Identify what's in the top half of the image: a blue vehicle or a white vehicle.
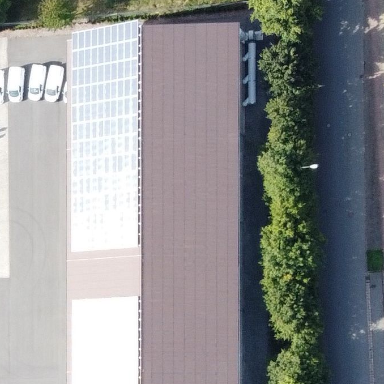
white vehicle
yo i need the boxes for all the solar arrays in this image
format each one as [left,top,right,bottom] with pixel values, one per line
[72,296,137,384]
[71,20,137,252]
